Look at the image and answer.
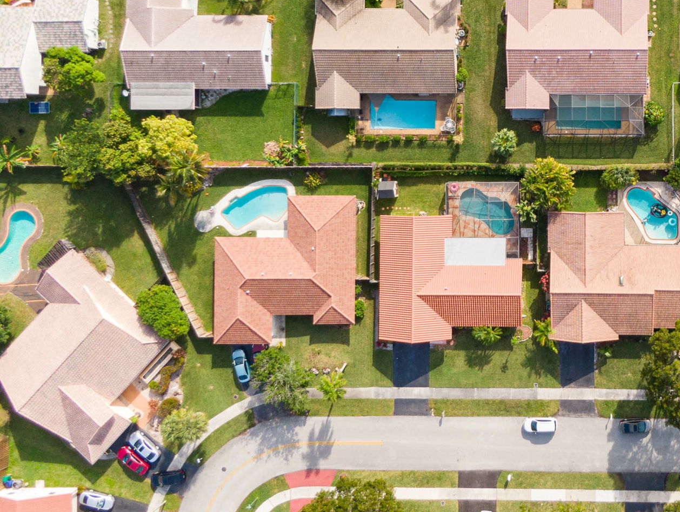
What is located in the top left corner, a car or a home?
home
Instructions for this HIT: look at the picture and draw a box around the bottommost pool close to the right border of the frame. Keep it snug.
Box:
[622,183,680,244]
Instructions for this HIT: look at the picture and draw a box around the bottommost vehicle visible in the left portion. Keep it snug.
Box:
[81,491,116,511]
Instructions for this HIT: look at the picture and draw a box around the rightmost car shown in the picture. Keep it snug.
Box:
[618,418,650,434]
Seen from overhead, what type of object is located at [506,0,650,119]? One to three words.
house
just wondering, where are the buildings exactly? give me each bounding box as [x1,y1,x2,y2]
[0,484,84,512]
[373,182,397,200]
[311,0,461,116]
[119,0,274,110]
[0,249,175,465]
[506,0,650,119]
[378,214,523,344]
[548,212,680,344]
[213,195,358,344]
[0,0,101,105]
